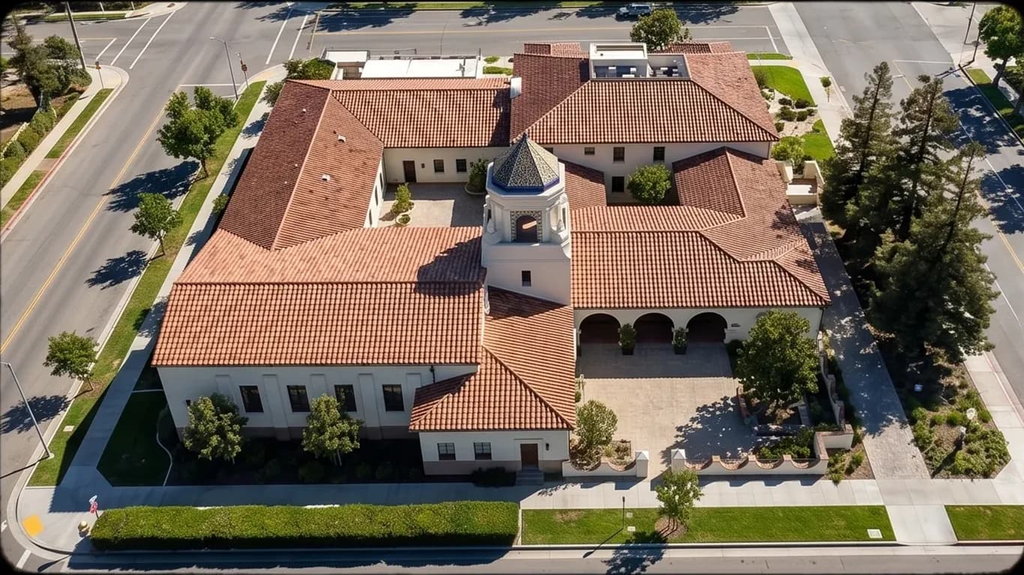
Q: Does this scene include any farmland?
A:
No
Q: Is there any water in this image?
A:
No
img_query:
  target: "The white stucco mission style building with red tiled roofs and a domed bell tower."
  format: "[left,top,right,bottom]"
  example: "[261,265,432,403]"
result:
[144,38,833,483]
